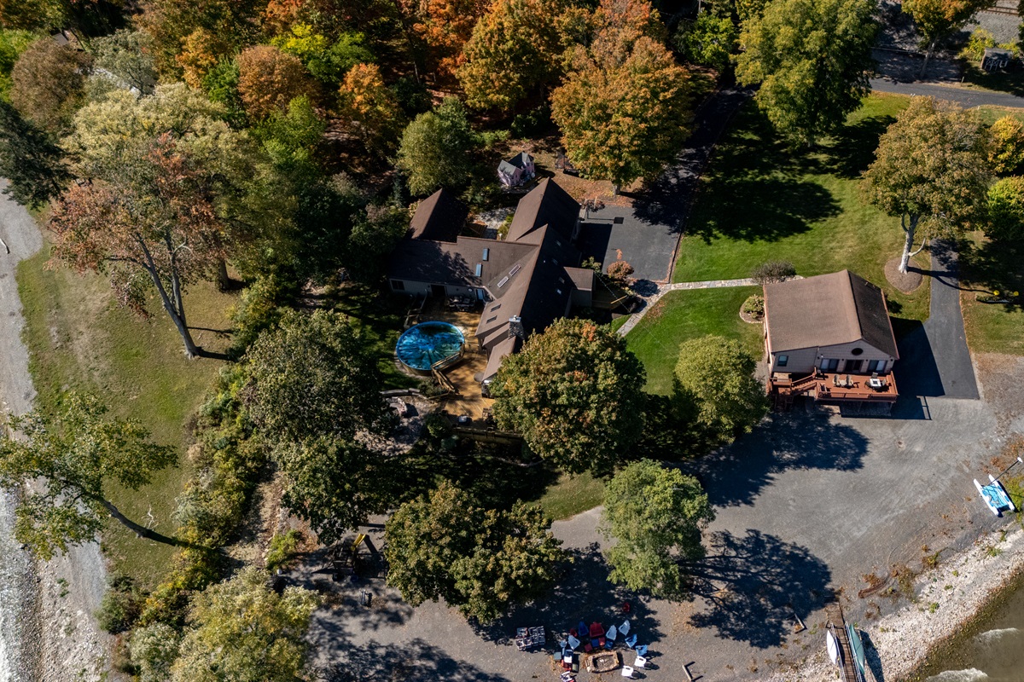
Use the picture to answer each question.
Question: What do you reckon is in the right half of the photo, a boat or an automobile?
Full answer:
What appears in the right half of the photo is a boat.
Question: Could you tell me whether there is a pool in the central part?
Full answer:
Yes, I can see a pool in the central part.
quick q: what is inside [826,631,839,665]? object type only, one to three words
boat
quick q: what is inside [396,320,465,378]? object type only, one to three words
swimming pool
